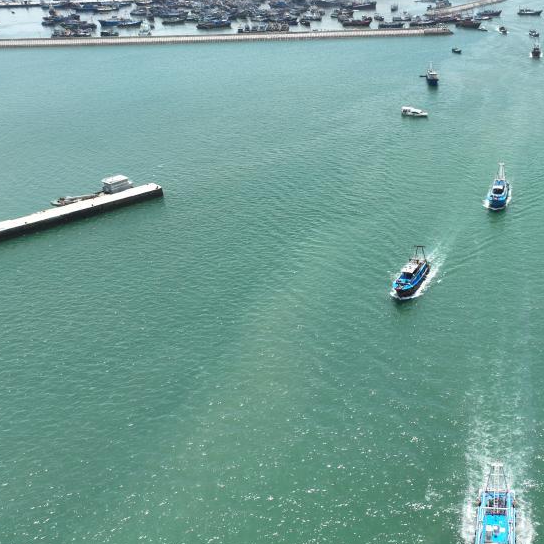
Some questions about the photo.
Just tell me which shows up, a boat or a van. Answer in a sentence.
The one in the frame is a boat.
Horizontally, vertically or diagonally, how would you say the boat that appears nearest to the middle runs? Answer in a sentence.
What the image shows is the boat that appears nearest to the middle lying diagonally.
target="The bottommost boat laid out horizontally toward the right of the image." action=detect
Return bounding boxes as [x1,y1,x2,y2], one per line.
[399,104,428,117]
